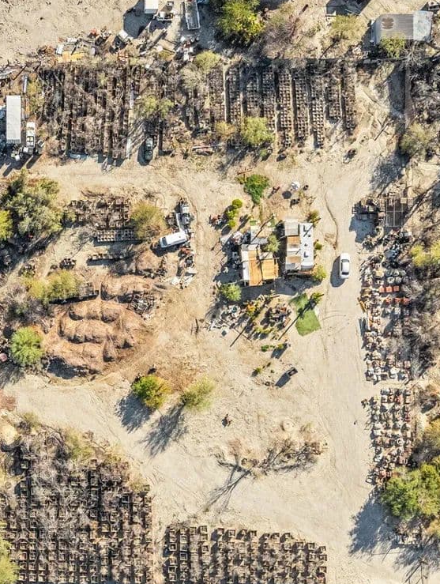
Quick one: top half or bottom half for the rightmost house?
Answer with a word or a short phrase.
top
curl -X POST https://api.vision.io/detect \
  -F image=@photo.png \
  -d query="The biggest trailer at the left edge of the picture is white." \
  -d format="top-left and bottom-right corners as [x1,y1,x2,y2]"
[6,93,21,148]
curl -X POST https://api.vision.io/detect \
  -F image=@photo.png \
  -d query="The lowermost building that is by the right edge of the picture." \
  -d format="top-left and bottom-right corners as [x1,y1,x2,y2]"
[368,10,436,46]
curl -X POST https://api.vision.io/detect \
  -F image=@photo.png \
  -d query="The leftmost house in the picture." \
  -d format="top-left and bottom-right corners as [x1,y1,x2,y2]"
[237,226,276,287]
